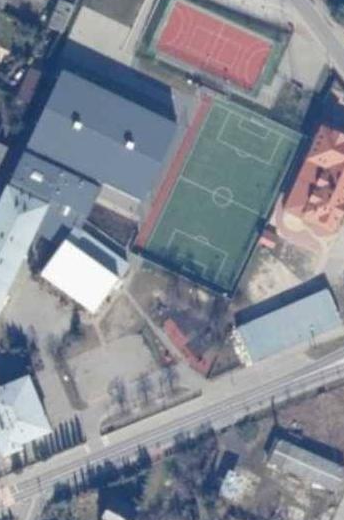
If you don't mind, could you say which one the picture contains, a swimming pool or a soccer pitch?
soccer pitch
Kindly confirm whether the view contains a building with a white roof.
Yes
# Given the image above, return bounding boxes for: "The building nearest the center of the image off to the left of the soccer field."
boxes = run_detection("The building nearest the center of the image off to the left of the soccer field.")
[41,229,128,313]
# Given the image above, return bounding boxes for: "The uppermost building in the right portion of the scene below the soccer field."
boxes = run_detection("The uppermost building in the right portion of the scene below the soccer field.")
[236,289,340,365]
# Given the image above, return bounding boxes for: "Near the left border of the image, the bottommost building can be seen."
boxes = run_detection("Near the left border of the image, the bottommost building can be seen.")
[0,376,52,458]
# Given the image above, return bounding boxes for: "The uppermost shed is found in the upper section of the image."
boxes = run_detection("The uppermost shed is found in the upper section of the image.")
[47,1,74,32]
